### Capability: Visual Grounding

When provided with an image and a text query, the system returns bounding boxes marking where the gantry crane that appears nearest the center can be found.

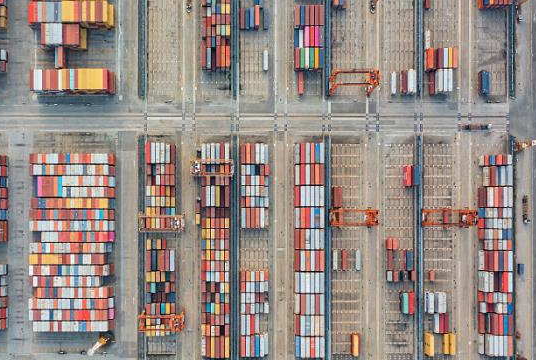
[189,158,235,181]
